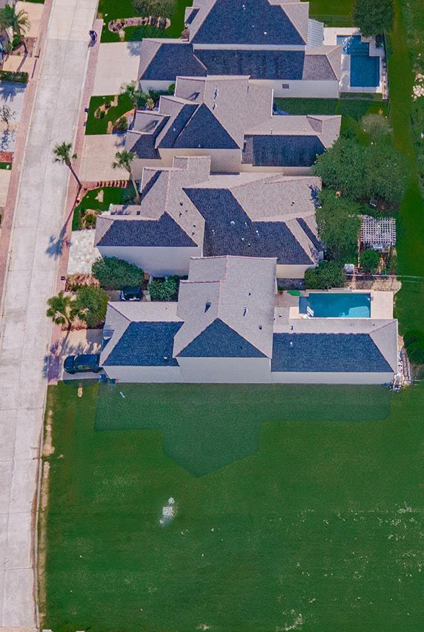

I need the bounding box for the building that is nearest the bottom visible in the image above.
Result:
[102,256,398,381]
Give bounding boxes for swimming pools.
[297,291,373,319]
[334,33,381,88]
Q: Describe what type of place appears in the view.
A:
residential area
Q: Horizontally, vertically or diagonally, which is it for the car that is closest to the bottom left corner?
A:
horizontally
